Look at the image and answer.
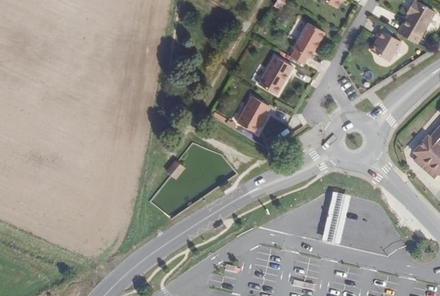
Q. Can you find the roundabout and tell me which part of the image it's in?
right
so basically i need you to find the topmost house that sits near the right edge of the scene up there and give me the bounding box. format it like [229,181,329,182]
[398,2,437,44]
